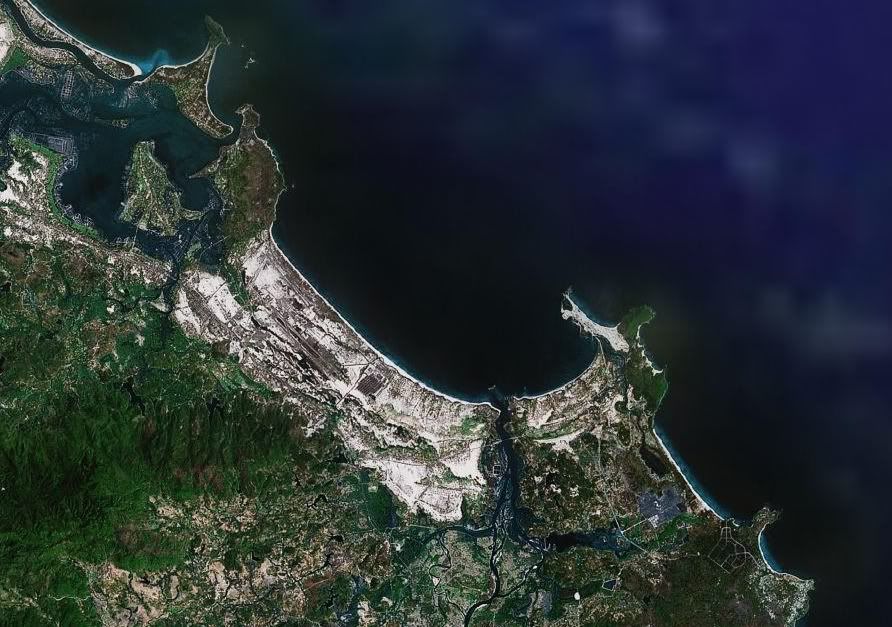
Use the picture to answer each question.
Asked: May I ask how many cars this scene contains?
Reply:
none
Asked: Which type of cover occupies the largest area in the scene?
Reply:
water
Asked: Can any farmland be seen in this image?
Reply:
Yes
